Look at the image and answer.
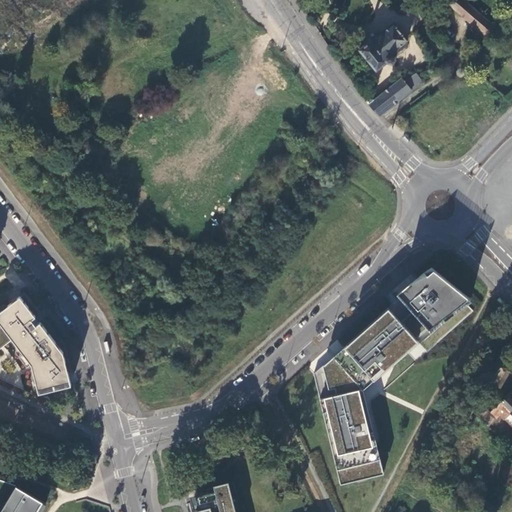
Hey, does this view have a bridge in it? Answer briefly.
No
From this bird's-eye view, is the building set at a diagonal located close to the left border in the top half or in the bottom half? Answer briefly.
bottom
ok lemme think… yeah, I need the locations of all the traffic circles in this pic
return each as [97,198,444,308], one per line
[390,154,491,256]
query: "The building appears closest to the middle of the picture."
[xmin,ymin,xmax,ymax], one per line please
[344,311,418,380]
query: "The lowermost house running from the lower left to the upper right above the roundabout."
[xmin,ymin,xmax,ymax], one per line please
[368,73,422,116]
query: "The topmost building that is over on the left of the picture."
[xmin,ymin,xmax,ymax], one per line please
[0,298,71,396]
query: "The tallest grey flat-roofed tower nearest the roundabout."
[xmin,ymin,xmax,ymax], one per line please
[396,270,474,351]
